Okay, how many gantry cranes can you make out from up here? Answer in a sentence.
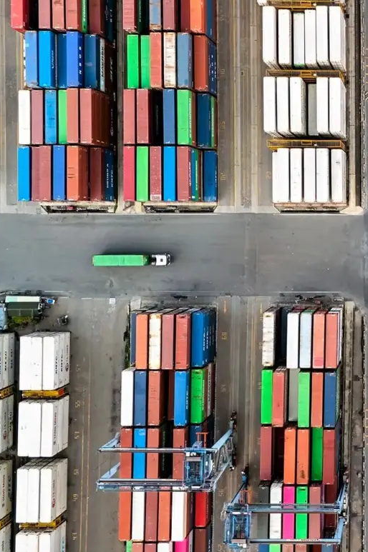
Looking from above, you can make out 2 gantry cranes.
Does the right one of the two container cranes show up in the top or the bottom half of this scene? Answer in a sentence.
The right one of the two container cranes is in the bottom half of the image.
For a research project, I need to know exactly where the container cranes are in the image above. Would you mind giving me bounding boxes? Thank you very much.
[222,461,353,548]
[101,411,238,492]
